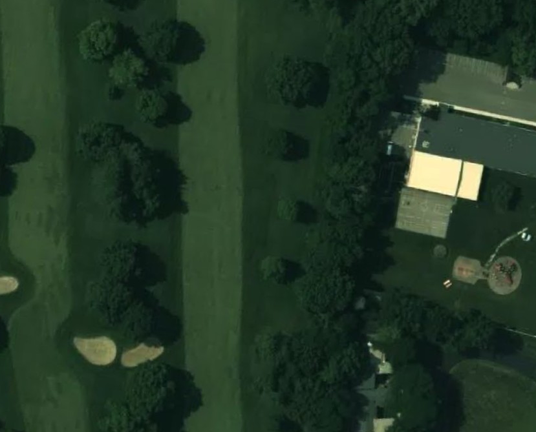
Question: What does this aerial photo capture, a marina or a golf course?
golf course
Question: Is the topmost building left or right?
right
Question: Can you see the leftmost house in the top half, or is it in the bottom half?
bottom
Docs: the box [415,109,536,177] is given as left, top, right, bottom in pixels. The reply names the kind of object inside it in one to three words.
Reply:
building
